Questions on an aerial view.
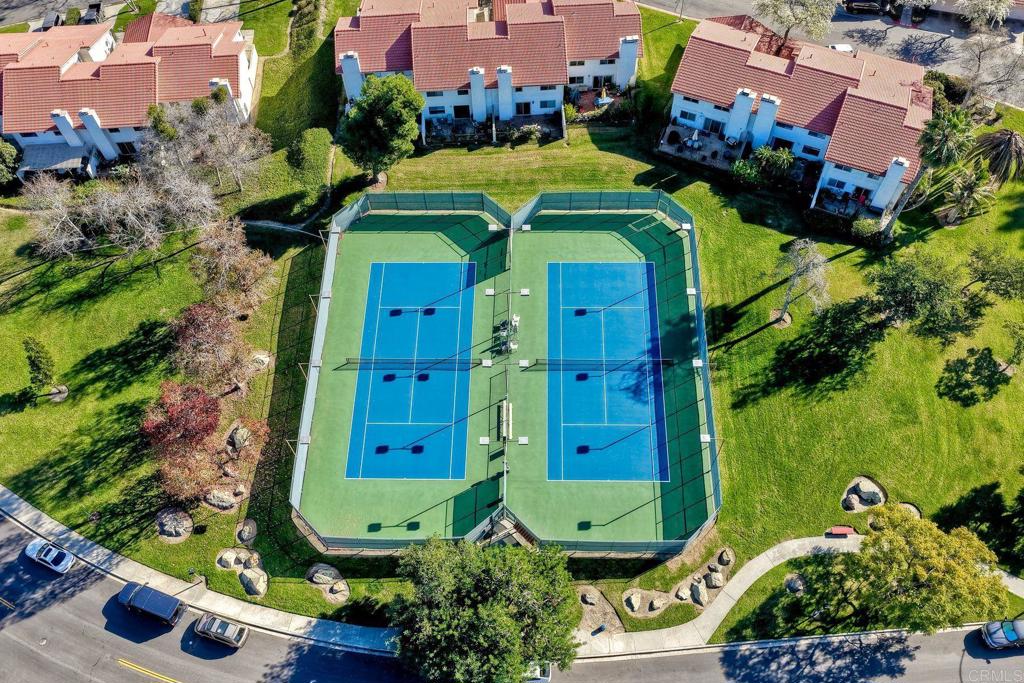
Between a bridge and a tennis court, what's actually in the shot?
tennis court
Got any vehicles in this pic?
Yes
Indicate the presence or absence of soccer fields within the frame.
No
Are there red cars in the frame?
No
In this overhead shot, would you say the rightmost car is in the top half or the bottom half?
bottom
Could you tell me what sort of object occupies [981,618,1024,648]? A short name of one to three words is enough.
car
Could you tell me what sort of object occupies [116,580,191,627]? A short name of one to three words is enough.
truck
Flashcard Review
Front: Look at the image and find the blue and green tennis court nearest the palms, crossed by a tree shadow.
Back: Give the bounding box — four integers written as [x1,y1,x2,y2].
[506,210,716,564]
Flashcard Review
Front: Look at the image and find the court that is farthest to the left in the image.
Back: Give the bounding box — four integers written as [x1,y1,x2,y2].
[299,211,512,562]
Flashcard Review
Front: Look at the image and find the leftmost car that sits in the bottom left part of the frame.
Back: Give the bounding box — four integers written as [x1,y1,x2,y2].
[24,539,80,575]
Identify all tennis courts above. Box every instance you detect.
[506,210,716,564]
[299,211,512,562]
